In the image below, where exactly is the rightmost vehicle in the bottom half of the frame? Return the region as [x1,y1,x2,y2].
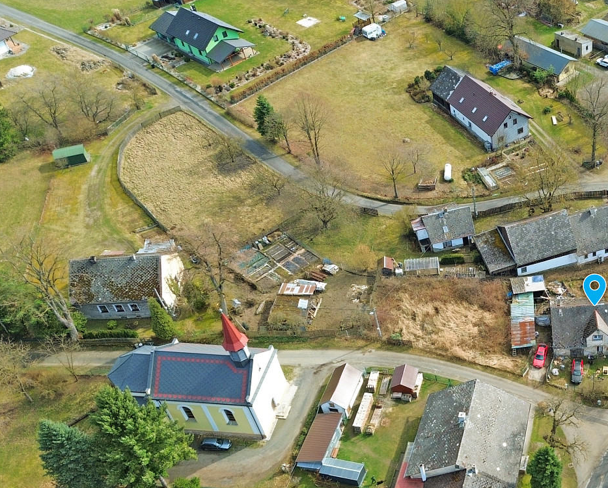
[571,356,584,382]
